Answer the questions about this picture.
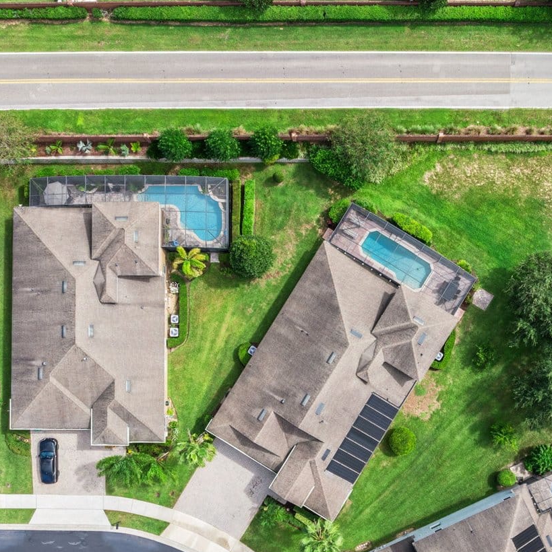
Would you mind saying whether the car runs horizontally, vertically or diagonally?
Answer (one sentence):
The car runs vertically in the image.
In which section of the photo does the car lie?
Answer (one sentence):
The car sits in the bottom left section of the image.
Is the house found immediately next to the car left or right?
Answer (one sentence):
The house found immediately next to the car is on the left side of the image.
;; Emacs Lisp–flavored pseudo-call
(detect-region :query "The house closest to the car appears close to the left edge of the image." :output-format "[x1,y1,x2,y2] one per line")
[9,200,171,447]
